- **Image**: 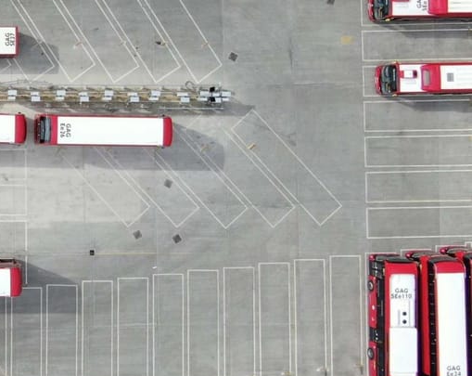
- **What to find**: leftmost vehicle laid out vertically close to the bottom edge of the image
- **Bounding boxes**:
[368,250,420,376]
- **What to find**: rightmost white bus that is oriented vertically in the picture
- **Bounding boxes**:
[406,247,468,376]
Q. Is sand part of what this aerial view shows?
No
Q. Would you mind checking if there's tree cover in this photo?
No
